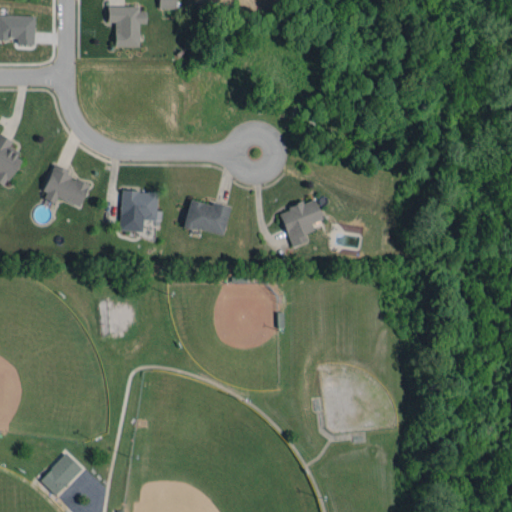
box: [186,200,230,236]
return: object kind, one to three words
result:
house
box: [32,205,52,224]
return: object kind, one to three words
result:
swimming pool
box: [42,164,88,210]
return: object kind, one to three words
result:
house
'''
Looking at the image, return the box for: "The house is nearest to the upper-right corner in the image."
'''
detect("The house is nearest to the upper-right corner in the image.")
[280,199,326,248]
